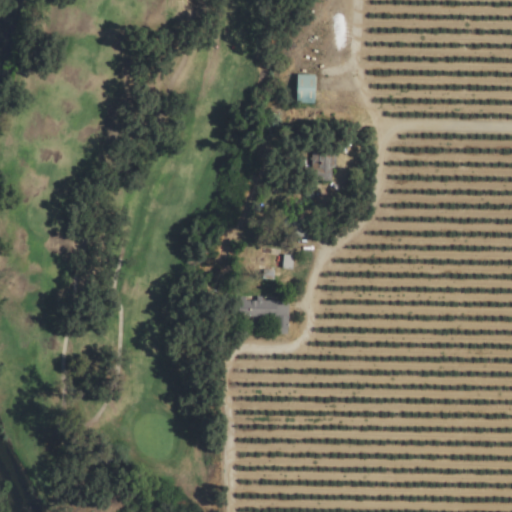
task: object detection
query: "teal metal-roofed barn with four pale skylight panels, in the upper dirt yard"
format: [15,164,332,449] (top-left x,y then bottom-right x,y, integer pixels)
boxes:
[297,74,317,102]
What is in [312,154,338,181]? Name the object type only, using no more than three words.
house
